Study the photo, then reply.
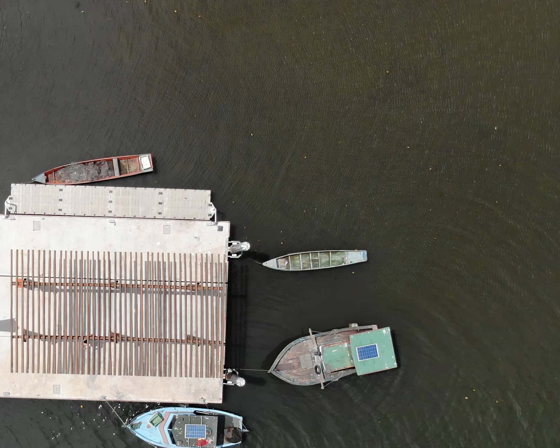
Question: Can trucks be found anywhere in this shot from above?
No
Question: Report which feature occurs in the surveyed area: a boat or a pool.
boat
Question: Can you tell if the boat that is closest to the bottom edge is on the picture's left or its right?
left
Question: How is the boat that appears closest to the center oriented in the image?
horizontally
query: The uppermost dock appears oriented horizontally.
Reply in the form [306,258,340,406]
[3,184,219,225]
